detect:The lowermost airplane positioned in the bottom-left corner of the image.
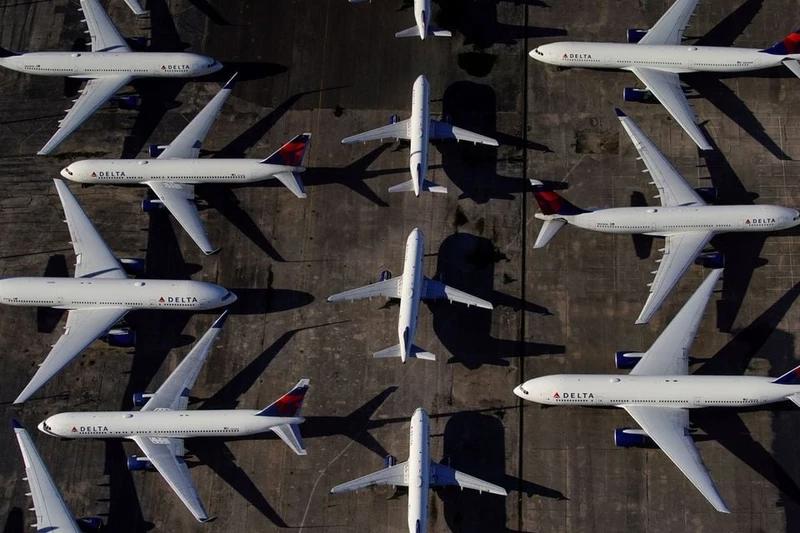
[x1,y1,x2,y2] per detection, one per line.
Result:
[10,417,104,533]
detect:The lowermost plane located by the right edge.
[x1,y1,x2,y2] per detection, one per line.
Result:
[513,268,800,515]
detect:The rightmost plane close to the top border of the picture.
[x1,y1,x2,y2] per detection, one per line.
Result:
[527,0,800,148]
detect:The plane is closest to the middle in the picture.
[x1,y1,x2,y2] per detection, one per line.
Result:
[327,229,491,363]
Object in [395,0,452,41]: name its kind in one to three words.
airplane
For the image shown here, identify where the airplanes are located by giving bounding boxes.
[395,0,452,41]
[331,409,506,533]
[529,107,800,323]
[327,229,491,363]
[59,73,312,254]
[38,310,310,521]
[513,268,800,515]
[341,76,498,196]
[0,0,223,155]
[0,178,237,402]
[527,0,800,148]
[10,417,104,533]
[126,0,152,13]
